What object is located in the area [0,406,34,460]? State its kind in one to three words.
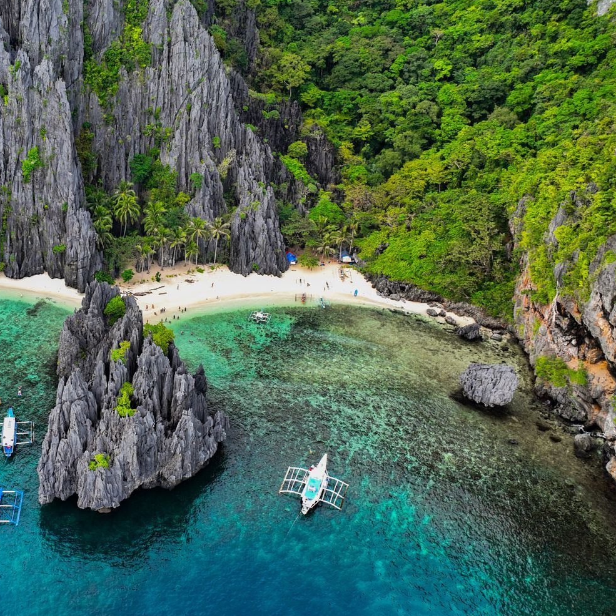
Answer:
boat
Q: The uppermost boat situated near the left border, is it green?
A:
No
